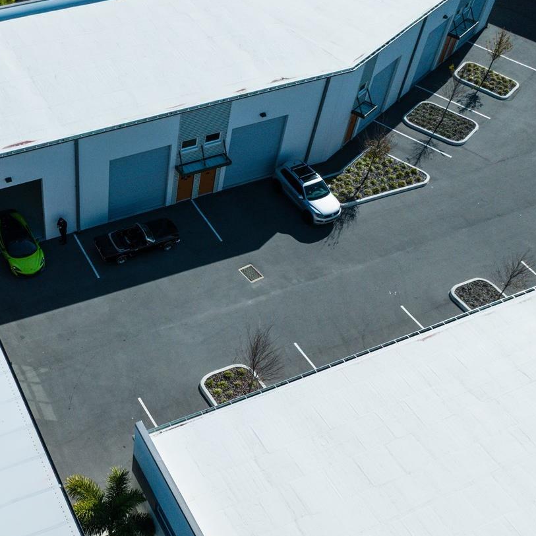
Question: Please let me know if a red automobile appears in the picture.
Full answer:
No, the picture doesn't show any red automobile.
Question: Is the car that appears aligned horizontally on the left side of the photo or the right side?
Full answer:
You can find the car that appears aligned horizontally on the left side of the picture.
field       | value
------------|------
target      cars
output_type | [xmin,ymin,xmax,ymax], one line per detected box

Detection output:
[0,208,41,277]
[94,212,187,259]
[273,156,342,221]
